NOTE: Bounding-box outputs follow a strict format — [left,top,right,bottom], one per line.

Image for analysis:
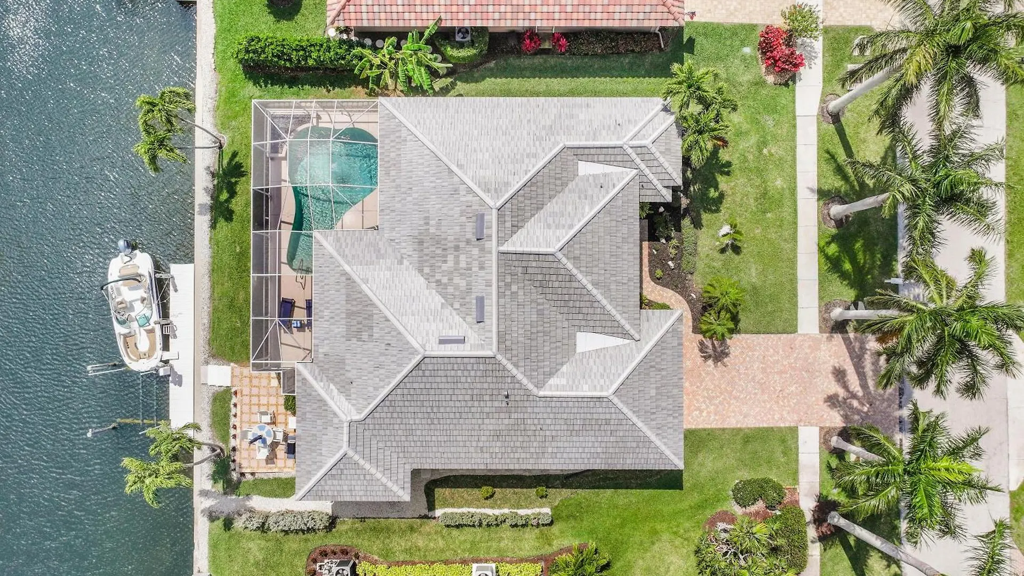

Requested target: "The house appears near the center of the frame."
[294,96,685,502]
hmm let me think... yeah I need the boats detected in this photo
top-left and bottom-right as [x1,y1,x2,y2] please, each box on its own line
[101,239,165,372]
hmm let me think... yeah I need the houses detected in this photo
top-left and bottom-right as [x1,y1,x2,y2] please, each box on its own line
[325,0,687,48]
[294,96,685,502]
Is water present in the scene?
Yes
